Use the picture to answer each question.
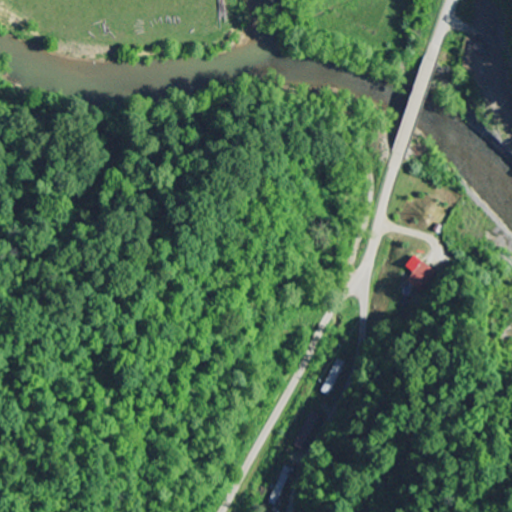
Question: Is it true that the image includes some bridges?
Yes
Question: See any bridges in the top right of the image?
Yes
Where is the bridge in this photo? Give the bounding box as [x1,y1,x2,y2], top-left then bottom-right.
[388,44,442,164]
